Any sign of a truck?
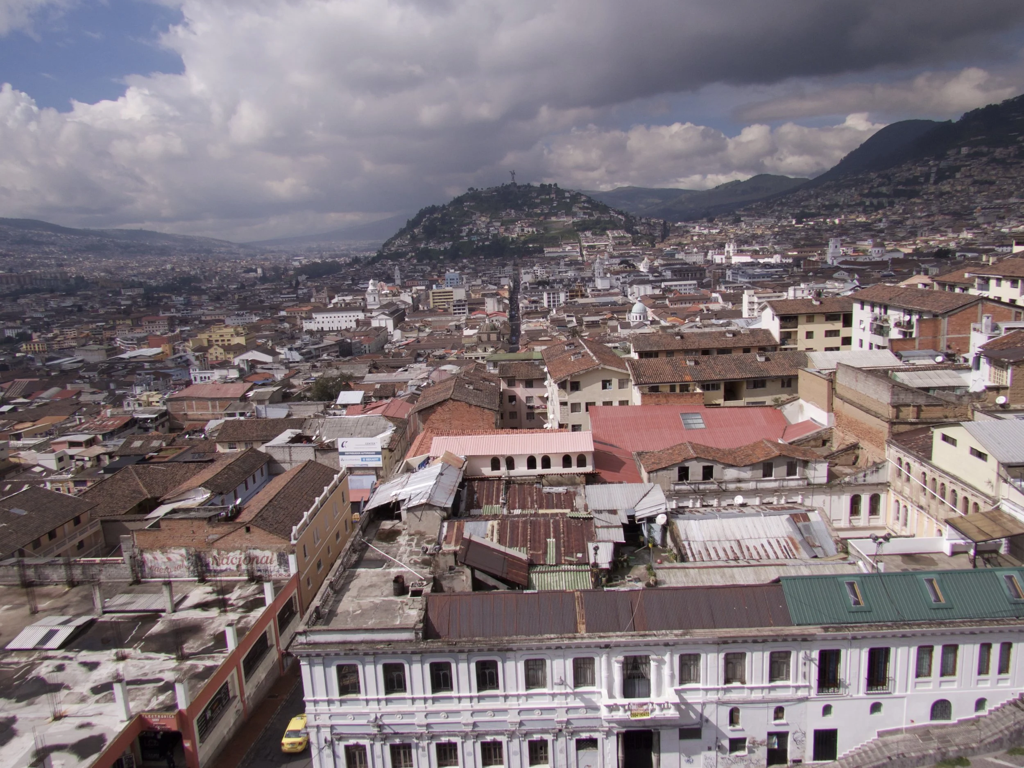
No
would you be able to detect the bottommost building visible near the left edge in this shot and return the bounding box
[0,571,302,768]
